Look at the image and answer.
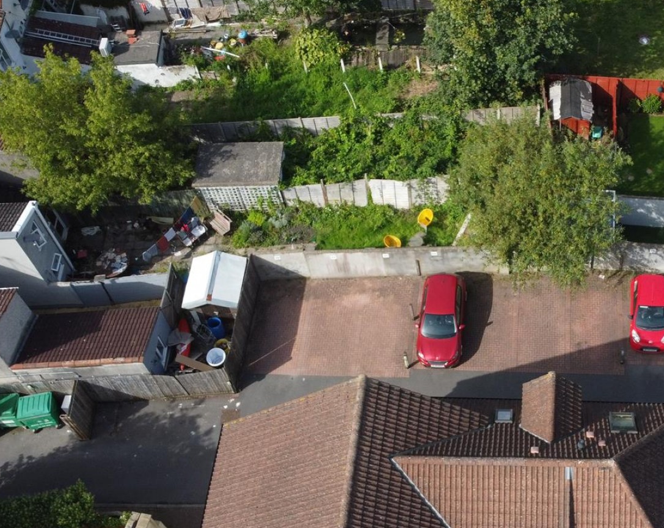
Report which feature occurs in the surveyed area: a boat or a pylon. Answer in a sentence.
Of the two, only a boat appears.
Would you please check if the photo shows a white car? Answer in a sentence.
No, no white car can be seen from above.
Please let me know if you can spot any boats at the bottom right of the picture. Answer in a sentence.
No, at the bottom right of the picture there is no boat.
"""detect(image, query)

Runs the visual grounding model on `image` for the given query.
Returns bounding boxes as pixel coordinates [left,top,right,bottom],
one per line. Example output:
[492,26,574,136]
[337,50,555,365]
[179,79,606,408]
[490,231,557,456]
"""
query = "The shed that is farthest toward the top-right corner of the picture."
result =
[551,76,592,144]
